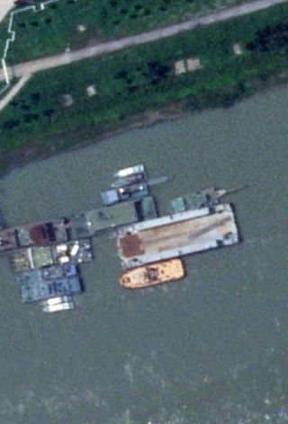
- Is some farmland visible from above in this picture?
No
